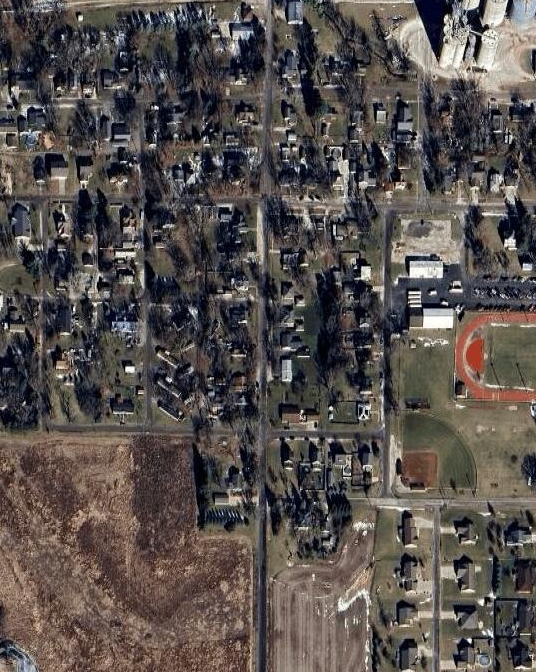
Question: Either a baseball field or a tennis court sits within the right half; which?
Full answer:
The feature located within the right half is a baseball field.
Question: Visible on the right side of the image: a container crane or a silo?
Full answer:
The feature located on the right side of the image is a silo.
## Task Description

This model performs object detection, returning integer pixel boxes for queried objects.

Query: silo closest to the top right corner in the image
[510,0,536,24]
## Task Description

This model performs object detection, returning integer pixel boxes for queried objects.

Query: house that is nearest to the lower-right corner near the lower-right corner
[510,643,532,670]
